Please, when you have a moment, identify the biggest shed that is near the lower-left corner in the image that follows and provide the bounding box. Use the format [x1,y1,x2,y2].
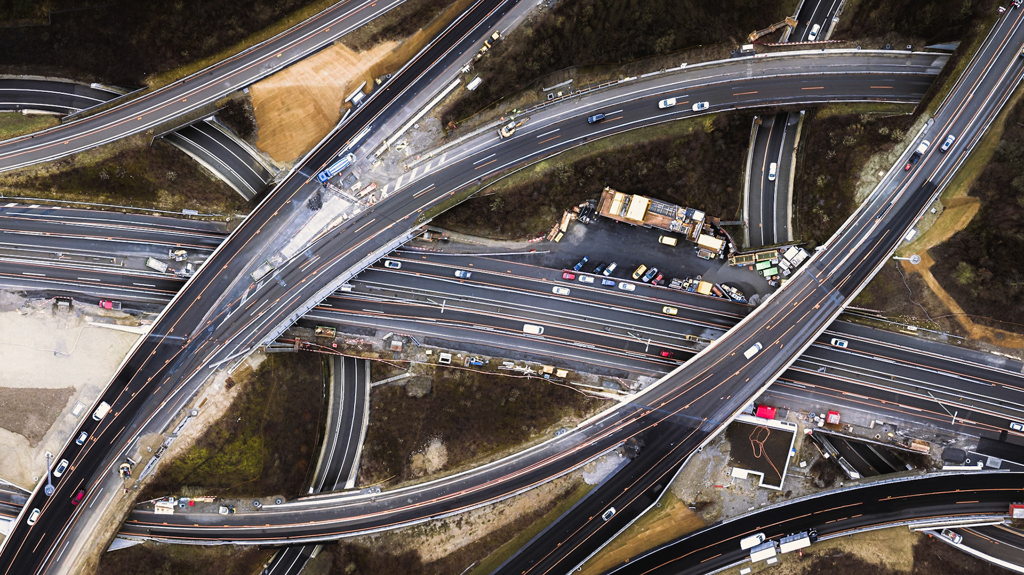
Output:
[155,496,178,515]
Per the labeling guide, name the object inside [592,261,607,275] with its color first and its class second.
black car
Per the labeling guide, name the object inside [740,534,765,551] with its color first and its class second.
white vehicle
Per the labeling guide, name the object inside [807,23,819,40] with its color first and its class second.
white vehicle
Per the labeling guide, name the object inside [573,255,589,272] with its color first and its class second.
blue car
